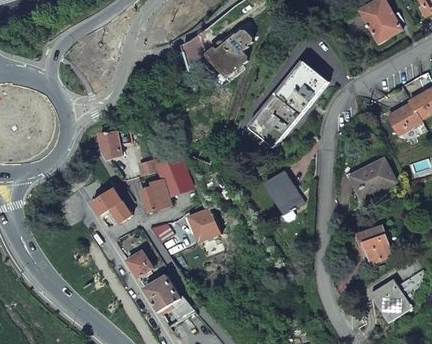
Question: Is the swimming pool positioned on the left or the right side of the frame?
right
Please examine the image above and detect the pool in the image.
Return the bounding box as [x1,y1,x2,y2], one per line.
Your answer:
[410,158,432,178]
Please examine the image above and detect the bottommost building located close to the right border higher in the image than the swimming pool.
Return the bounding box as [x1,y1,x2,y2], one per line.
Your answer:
[388,88,432,144]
